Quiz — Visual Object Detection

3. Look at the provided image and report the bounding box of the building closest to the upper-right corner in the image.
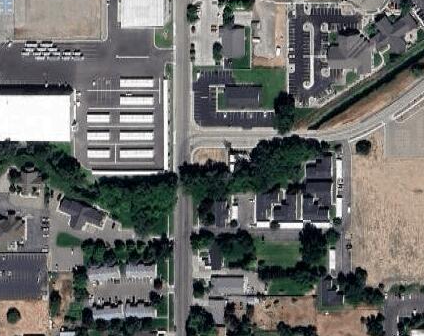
[364,14,418,55]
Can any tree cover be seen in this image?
Yes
